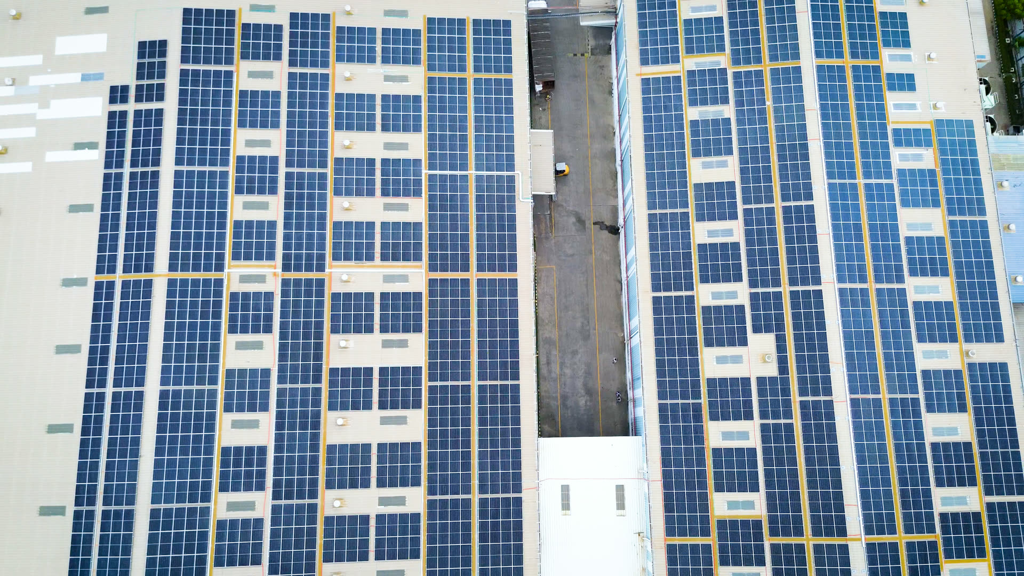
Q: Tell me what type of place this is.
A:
industrial area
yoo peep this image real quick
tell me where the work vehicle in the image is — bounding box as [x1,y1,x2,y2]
[556,164,570,178]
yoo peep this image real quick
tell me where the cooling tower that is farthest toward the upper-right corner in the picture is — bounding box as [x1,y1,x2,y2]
[980,77,1000,113]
